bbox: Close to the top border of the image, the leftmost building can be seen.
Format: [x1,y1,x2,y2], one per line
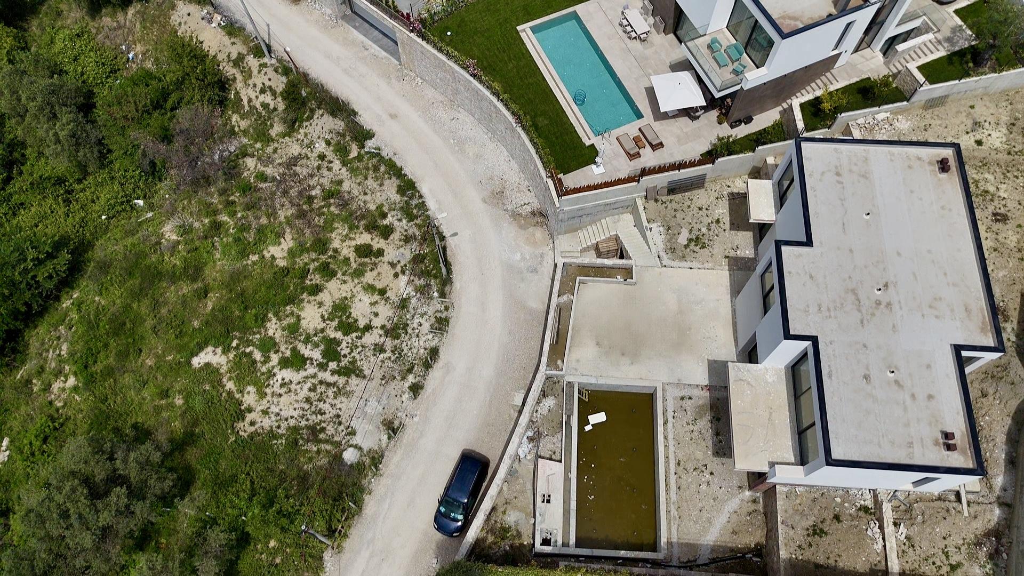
[339,0,401,66]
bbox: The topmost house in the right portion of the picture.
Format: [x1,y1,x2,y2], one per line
[640,0,943,126]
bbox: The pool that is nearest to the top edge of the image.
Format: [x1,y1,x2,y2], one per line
[509,3,652,150]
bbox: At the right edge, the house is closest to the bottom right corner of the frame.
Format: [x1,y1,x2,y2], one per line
[727,136,1007,492]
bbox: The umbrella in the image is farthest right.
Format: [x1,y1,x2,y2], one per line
[651,71,706,121]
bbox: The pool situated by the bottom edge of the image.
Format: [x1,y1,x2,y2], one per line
[570,381,667,558]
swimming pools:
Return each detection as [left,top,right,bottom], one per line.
[509,3,652,150]
[570,381,667,558]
